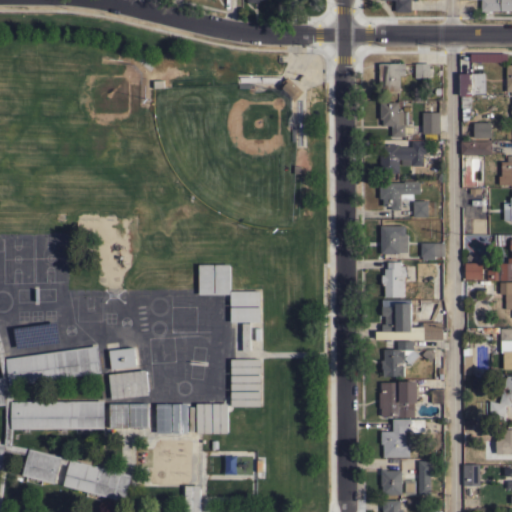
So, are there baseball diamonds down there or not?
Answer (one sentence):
Yes, there is a baseball diamond in the image.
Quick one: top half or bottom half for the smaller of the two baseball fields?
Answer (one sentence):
The smaller of the two baseball fields is in the top half of the image.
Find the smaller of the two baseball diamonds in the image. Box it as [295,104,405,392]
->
[86,58,140,124]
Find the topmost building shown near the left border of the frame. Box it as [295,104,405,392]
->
[6,346,102,382]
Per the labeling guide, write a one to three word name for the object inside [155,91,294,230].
baseball field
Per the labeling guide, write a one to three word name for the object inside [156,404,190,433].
building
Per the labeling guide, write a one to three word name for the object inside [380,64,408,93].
house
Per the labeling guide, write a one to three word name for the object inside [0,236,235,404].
playground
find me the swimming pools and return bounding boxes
[478,346,489,370]
[420,405,439,416]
